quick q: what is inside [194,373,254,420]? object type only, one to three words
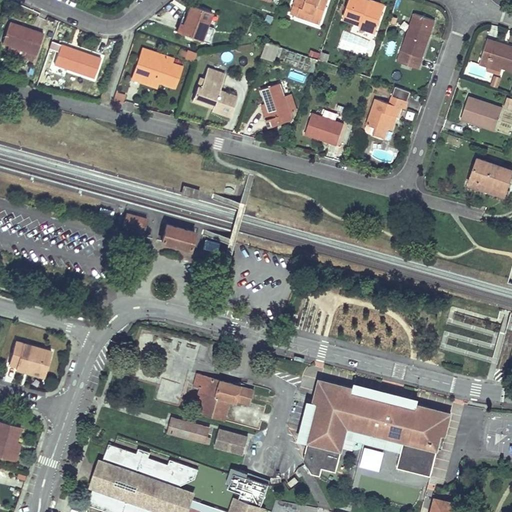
building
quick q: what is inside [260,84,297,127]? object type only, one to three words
house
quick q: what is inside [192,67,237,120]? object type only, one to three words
house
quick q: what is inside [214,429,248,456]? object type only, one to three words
shed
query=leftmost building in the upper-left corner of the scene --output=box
[3,22,44,63]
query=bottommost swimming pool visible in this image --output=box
[372,148,394,162]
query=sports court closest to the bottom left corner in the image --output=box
[194,465,230,508]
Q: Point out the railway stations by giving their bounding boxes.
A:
[164,225,197,262]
